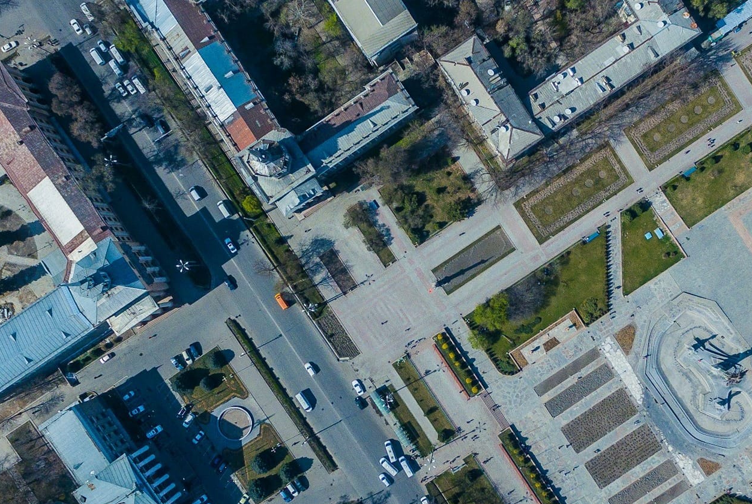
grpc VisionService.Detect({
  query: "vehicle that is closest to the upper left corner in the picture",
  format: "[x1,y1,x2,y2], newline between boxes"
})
[1,41,19,54]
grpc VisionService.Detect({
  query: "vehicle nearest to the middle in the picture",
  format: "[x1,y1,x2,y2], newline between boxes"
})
[274,293,289,311]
